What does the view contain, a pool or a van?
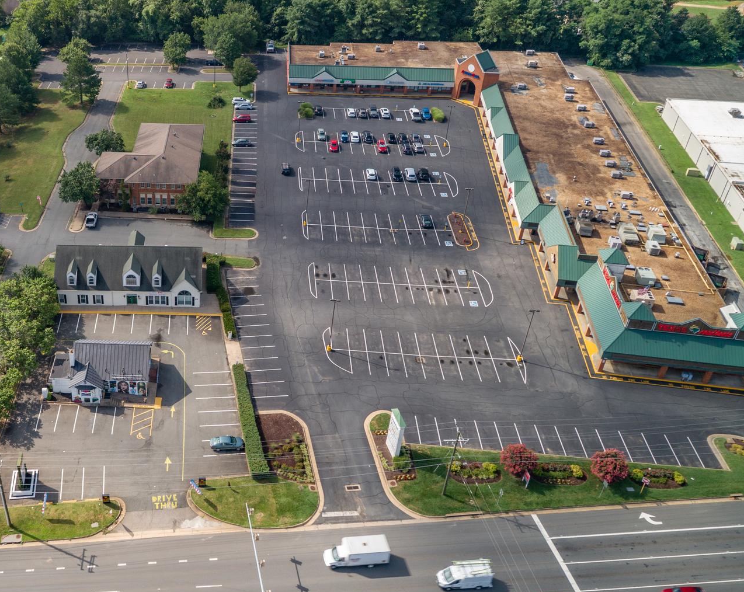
van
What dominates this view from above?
paved ground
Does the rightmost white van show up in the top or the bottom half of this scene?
bottom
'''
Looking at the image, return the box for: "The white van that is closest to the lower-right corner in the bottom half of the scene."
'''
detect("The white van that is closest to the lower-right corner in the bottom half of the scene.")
[440,557,498,590]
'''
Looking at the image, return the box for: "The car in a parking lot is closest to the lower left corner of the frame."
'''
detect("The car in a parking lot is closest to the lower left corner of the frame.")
[210,434,245,451]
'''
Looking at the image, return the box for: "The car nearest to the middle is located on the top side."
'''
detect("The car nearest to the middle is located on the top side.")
[420,214,433,229]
